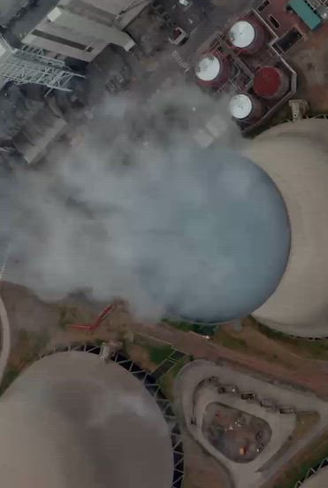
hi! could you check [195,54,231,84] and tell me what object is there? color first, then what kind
white storage tank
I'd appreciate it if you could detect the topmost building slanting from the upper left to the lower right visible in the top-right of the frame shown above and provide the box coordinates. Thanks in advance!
[288,0,324,31]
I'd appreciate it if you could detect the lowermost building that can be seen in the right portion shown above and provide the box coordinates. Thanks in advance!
[287,95,304,120]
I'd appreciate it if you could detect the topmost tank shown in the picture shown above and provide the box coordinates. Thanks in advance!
[230,21,266,53]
